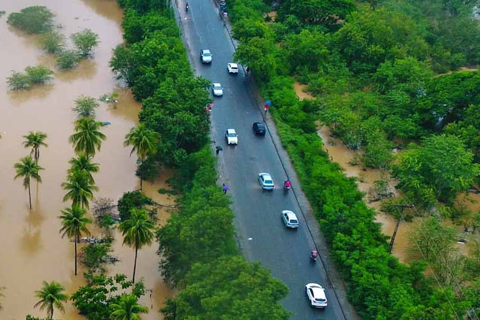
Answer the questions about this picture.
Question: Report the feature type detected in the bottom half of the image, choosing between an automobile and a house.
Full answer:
There is an automobile in the bottom half of the image.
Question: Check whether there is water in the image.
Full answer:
Yes, there's water in this view.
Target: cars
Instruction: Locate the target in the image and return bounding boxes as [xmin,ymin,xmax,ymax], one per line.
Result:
[200,49,213,62]
[279,210,299,229]
[227,63,239,74]
[223,125,239,145]
[210,83,224,97]
[305,283,331,308]
[257,173,274,190]
[251,121,266,135]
